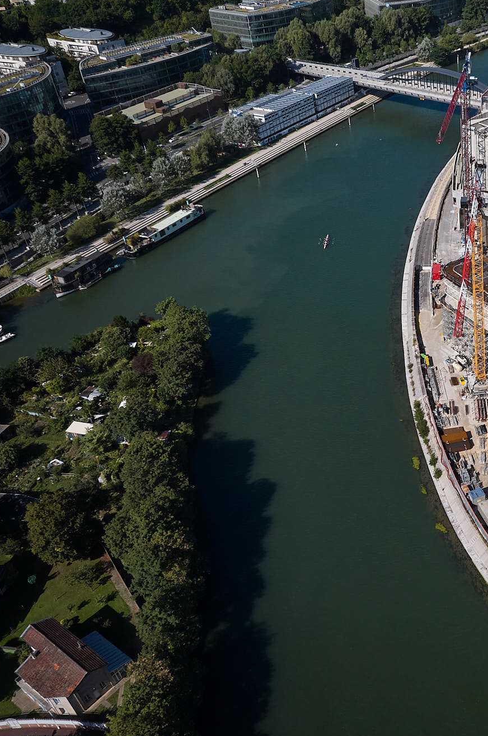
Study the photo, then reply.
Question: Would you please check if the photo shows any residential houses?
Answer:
Yes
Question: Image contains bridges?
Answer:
Yes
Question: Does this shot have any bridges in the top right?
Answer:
Yes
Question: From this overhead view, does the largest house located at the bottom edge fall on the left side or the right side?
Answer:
left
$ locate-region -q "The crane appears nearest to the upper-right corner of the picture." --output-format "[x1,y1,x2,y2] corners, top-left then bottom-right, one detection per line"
[434,55,476,254]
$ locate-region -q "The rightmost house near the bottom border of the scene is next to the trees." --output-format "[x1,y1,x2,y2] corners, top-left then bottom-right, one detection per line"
[13,618,130,717]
